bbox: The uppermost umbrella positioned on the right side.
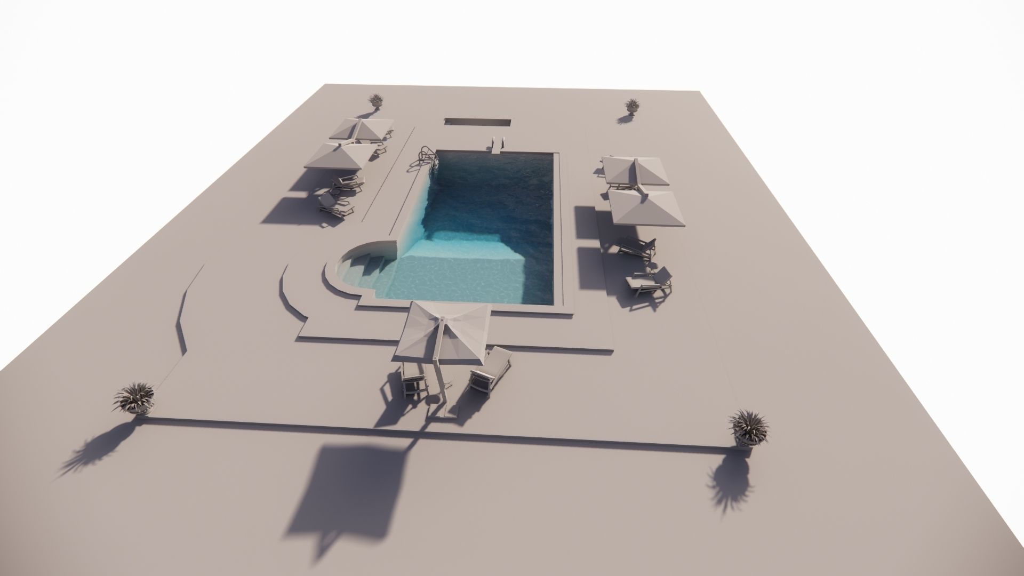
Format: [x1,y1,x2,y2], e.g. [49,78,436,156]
[602,155,686,226]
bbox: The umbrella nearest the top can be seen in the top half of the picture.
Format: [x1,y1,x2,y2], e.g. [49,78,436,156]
[303,117,394,173]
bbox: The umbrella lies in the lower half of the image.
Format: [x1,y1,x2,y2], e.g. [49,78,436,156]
[392,299,492,419]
